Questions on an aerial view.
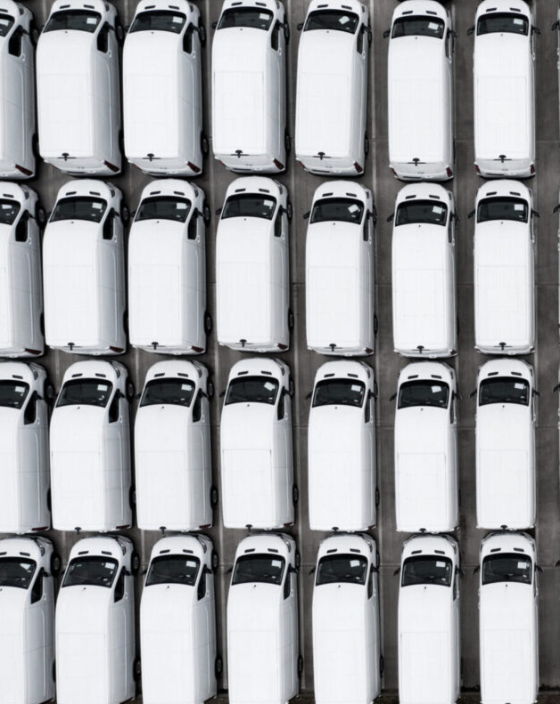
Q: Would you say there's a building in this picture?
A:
No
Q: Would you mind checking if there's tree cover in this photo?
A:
No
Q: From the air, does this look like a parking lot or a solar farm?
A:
parking lot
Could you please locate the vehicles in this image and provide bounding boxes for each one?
[302,180,377,356]
[389,360,461,536]
[38,0,127,178]
[123,0,209,179]
[134,358,219,535]
[296,0,371,178]
[0,360,56,534]
[225,530,303,704]
[466,0,540,180]
[0,0,46,181]
[56,533,142,704]
[382,0,457,183]
[139,532,223,704]
[308,531,381,704]
[129,178,213,355]
[472,530,543,704]
[218,357,299,533]
[393,532,464,704]
[210,0,291,175]
[469,357,540,533]
[0,180,49,357]
[467,180,540,355]
[304,359,379,535]
[0,534,62,704]
[214,175,295,353]
[44,179,132,355]
[51,358,138,535]
[386,182,459,358]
